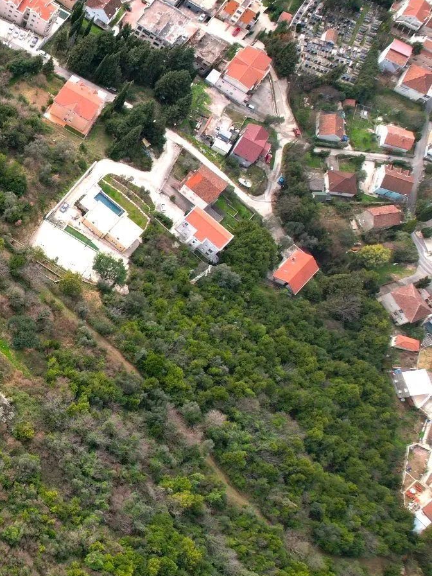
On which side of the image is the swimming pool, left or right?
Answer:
left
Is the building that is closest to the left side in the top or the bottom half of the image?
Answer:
top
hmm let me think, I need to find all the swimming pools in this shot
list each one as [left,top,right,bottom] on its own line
[94,191,126,218]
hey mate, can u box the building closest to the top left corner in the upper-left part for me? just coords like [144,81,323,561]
[0,0,63,36]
